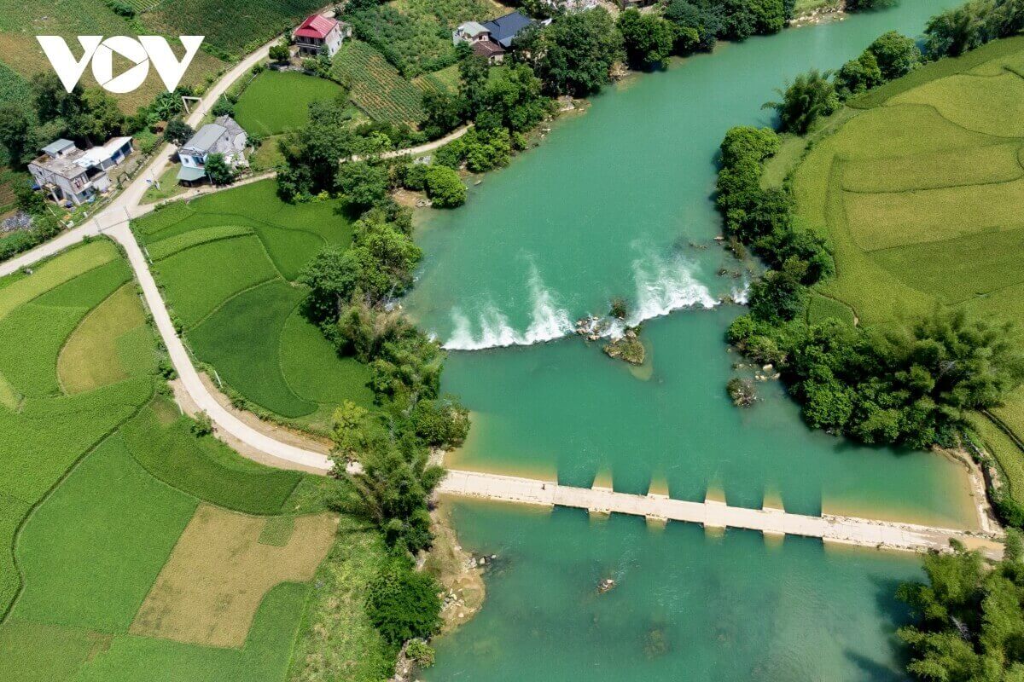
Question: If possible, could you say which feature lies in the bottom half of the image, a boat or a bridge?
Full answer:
There is a bridge in the bottom half of the image.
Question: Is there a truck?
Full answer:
No, there is no truck in the image.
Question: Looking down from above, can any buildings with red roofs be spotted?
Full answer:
Yes, a building with a red roof appears in the view.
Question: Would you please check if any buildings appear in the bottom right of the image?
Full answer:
No, no building can be made out in the bottom right of the image.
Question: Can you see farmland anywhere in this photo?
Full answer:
Yes, there is farmland in the image.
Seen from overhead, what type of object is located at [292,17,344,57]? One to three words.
house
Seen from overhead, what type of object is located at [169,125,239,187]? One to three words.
house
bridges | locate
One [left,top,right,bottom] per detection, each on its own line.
[424,471,987,556]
